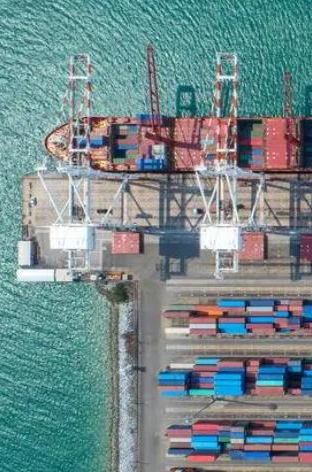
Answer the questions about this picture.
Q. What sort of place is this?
port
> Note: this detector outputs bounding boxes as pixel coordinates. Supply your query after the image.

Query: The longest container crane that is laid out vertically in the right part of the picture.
[199,52,277,282]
